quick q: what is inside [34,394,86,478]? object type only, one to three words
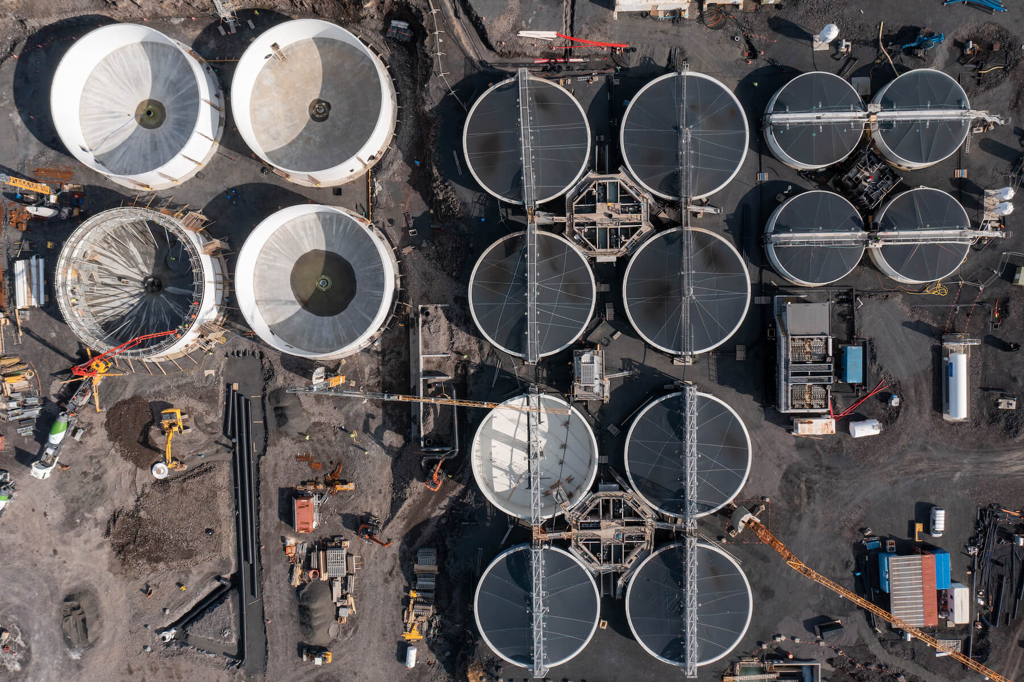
truck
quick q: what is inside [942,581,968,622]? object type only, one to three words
building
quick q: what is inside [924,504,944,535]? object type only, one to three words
vehicle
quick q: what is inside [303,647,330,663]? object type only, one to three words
work vehicle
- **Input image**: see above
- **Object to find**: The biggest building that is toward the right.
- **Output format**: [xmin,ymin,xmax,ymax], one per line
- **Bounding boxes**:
[764,296,832,412]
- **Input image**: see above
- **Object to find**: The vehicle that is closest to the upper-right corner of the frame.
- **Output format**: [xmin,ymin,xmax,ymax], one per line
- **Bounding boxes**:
[868,34,936,68]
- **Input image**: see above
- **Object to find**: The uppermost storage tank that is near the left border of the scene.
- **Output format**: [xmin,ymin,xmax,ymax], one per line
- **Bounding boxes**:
[49,23,227,193]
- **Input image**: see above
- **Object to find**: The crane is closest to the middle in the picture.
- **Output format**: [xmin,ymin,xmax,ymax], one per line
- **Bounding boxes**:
[287,365,571,414]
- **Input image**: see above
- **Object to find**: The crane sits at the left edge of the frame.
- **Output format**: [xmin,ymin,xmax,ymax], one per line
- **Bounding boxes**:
[0,168,64,219]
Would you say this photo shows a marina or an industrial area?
industrial area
